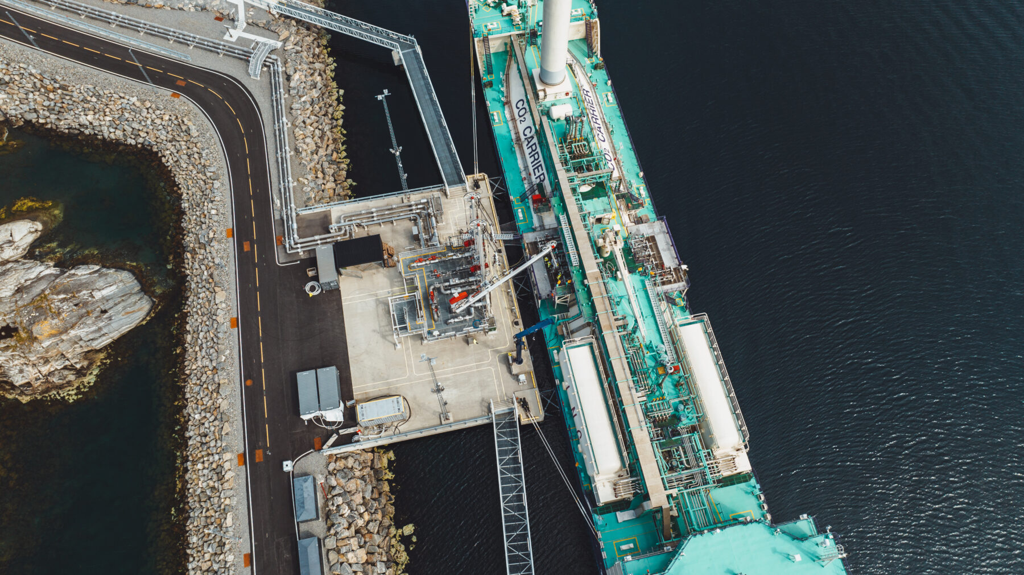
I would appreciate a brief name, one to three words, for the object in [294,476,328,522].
building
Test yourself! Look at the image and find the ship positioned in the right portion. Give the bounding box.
[469,0,852,575]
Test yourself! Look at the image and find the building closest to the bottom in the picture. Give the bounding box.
[298,537,332,575]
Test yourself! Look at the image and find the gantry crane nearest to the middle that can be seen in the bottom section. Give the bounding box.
[507,321,558,377]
